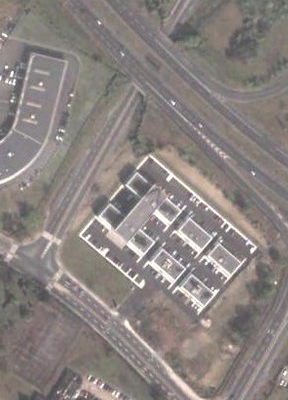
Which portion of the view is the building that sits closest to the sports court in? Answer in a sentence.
You can find the building that sits closest to the sports court in the bottom left area of the picture.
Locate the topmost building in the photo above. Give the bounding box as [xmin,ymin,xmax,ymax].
[0,54,68,183]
